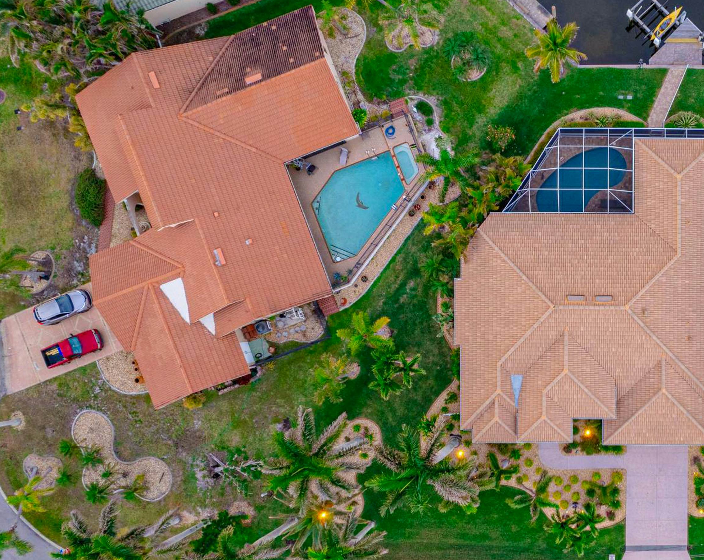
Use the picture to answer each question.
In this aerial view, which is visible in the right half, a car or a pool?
pool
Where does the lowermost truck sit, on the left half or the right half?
left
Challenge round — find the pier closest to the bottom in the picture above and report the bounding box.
[649,18,703,64]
